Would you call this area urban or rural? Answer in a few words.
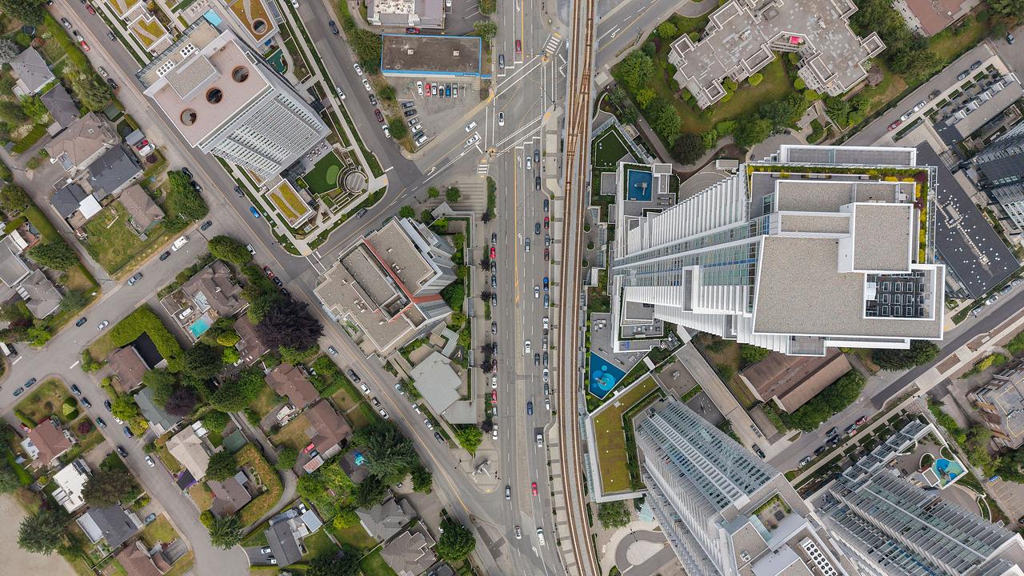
urban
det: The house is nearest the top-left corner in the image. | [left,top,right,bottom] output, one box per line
[10,46,59,101]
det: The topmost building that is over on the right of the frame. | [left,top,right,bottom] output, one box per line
[894,0,981,39]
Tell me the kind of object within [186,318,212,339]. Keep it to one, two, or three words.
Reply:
swimming pool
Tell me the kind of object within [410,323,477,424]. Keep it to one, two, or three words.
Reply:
building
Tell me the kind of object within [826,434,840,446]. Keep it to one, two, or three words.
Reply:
vehicle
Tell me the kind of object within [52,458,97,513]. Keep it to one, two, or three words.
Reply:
house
